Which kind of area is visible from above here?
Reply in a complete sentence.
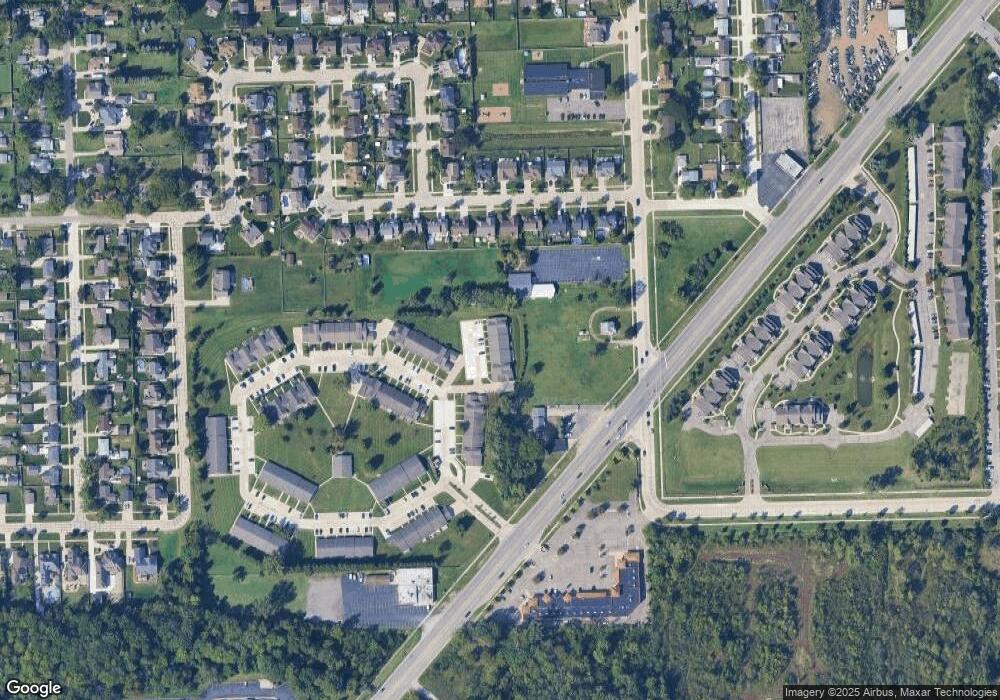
This looks like a residential area.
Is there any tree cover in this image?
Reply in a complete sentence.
Yes, there is tree cover in the image.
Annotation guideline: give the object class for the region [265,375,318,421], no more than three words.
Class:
building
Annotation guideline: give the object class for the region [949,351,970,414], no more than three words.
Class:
sports court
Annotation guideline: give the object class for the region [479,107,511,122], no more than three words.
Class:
playground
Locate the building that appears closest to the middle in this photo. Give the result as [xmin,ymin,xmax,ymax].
[487,317,513,383]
